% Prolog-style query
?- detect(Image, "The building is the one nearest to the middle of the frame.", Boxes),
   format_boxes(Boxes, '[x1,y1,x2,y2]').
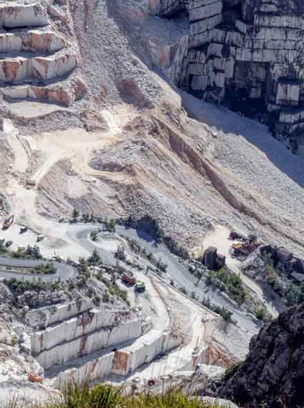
[201,244,230,273]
